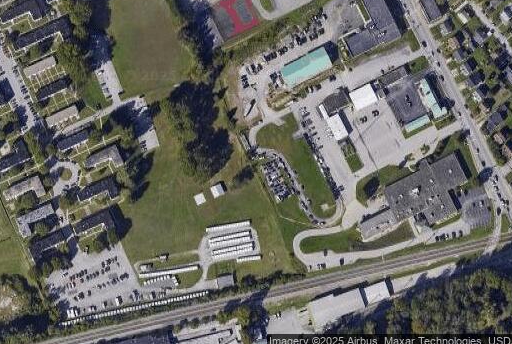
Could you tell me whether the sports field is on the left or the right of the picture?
left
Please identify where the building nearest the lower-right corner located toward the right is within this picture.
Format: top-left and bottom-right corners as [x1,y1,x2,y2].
[367,281,392,306]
